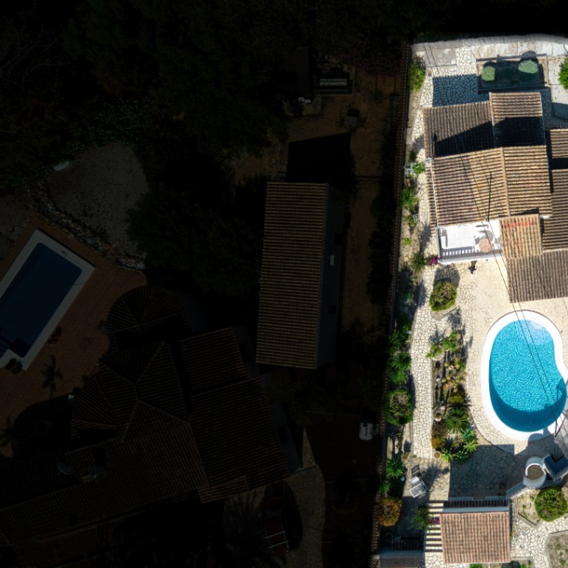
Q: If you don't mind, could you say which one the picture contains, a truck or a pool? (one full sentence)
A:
Of the two, only a pool appears.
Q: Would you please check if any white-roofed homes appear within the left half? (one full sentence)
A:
No, there's no white-roofed home to be seen within the left half.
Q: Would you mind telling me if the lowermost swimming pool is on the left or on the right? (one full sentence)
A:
The lowermost swimming pool appears in the right half of the scene.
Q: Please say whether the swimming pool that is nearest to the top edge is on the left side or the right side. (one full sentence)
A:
It is on the left.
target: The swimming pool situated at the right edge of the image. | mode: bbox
[481,310,568,441]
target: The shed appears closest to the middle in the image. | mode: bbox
[255,183,342,369]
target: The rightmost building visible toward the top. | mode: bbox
[423,92,568,302]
